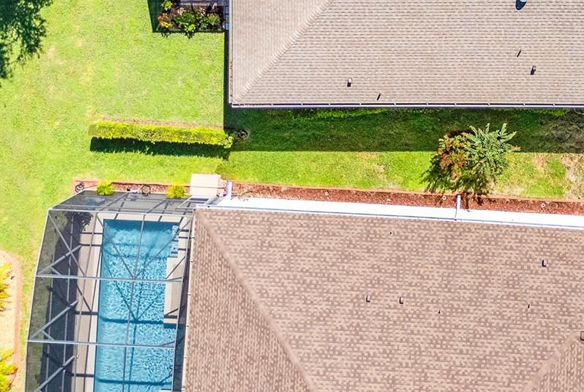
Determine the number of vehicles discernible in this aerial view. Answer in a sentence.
There are no vehicles in the image.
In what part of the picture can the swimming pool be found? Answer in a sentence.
The swimming pool sits in the bottom left section of the image.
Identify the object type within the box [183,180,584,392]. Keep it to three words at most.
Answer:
house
